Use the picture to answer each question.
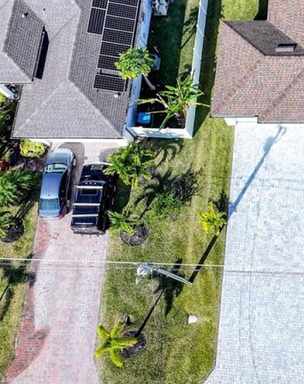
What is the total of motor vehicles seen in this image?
two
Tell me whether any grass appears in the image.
Yes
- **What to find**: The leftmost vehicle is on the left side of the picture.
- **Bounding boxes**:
[36,147,77,221]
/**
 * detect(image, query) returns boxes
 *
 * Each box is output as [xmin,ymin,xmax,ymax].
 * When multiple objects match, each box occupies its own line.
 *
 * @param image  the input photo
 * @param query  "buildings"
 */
[0,0,156,148]
[211,0,304,132]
